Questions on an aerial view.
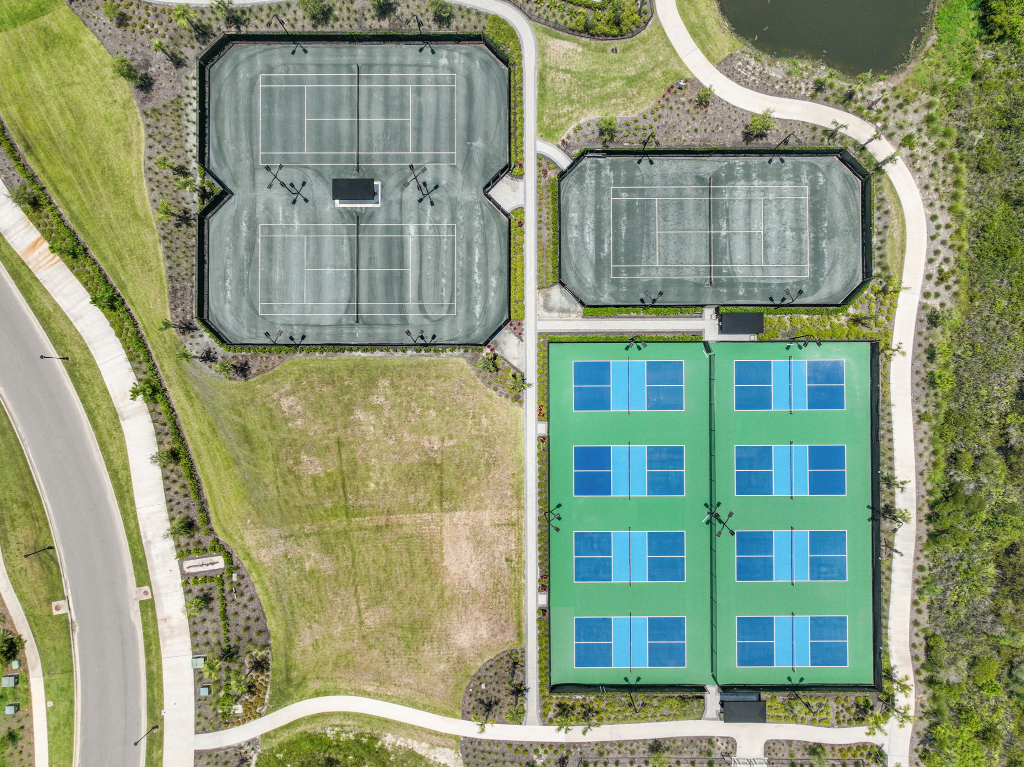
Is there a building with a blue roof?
No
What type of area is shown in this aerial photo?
sports ground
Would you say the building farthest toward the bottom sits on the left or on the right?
right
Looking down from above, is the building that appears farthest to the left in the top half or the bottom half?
top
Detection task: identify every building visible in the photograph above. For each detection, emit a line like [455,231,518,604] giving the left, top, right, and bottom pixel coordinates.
[717,312,764,335]
[332,178,380,207]
[719,693,767,724]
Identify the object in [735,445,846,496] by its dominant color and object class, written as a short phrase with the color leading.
blue sports court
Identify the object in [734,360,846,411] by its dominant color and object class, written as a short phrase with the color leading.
blue sports court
